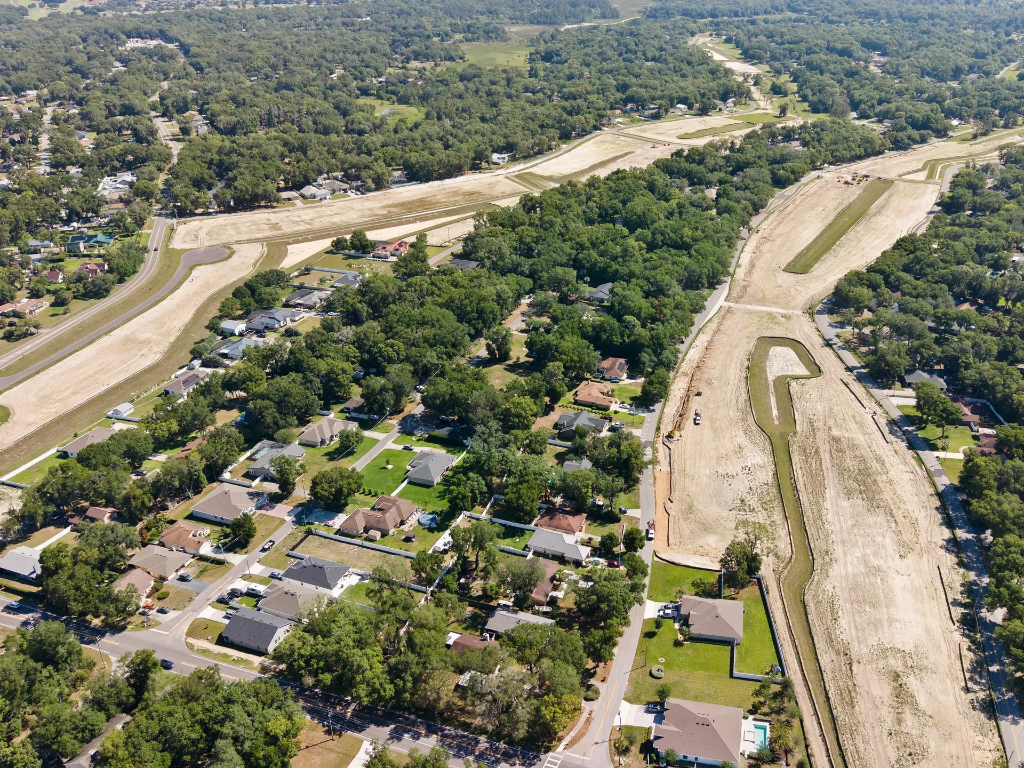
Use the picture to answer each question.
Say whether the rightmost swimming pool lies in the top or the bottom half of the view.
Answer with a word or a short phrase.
bottom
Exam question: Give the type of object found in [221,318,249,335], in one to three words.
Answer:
shed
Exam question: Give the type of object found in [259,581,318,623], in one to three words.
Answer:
house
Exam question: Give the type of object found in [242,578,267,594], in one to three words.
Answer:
vehicle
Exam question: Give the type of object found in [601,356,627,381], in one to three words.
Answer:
house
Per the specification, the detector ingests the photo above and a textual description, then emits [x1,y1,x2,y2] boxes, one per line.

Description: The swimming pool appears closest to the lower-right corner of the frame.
[739,722,768,749]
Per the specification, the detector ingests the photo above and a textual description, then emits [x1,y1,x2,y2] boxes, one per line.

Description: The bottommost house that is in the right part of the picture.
[653,693,739,767]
